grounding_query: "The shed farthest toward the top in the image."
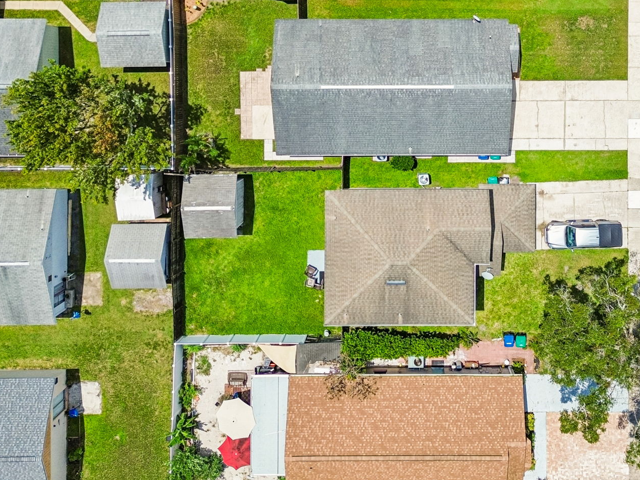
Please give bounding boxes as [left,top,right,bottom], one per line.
[94,1,170,68]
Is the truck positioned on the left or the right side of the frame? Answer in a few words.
right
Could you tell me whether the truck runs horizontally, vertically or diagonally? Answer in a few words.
horizontally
